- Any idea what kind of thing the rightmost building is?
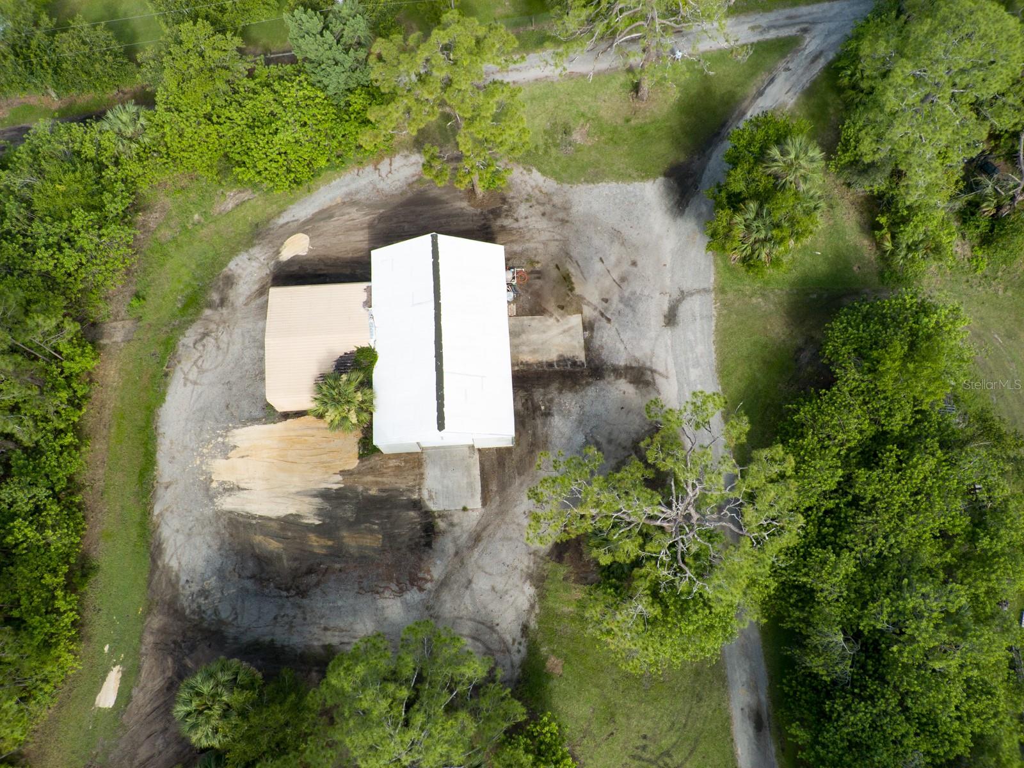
warehouse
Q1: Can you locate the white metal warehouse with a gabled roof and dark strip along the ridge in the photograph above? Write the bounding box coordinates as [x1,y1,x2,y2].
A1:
[372,236,514,450]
